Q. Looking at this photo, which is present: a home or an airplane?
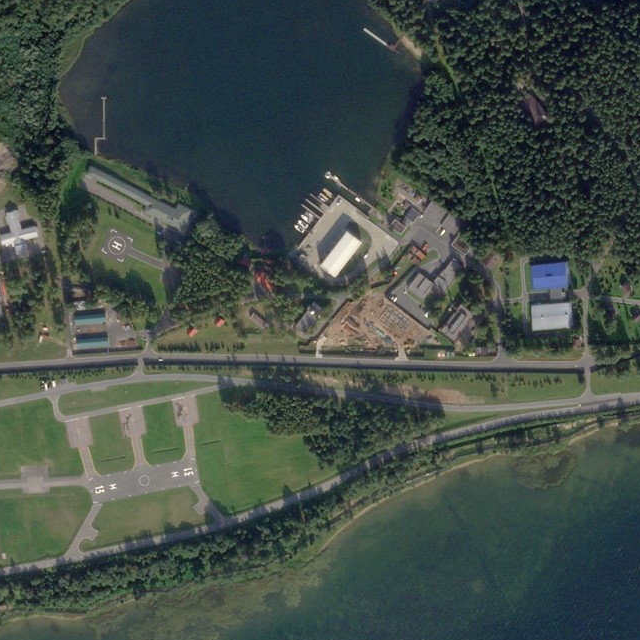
home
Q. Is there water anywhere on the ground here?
Yes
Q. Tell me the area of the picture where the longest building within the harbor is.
center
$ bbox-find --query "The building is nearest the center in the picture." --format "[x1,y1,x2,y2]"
[296,301,323,333]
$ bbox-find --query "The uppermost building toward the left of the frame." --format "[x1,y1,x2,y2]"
[85,166,193,231]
